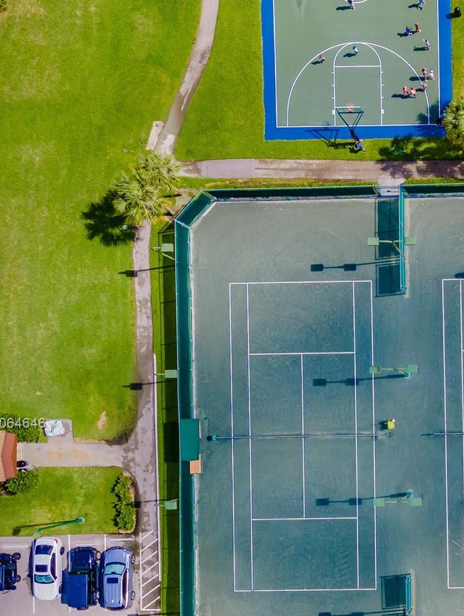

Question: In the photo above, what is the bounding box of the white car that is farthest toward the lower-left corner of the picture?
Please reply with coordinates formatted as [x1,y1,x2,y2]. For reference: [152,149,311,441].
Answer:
[31,537,64,600]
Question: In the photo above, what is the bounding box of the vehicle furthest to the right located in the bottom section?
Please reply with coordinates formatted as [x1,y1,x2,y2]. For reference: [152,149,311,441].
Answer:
[102,547,135,610]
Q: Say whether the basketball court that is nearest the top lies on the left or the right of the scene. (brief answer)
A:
right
